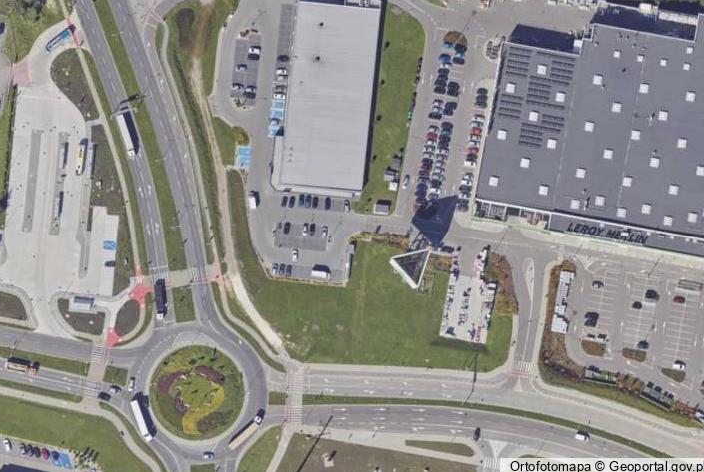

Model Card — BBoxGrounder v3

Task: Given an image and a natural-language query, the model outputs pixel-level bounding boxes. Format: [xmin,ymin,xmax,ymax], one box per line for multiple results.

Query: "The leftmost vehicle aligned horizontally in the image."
[7,360,37,374]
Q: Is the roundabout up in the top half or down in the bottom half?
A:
bottom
